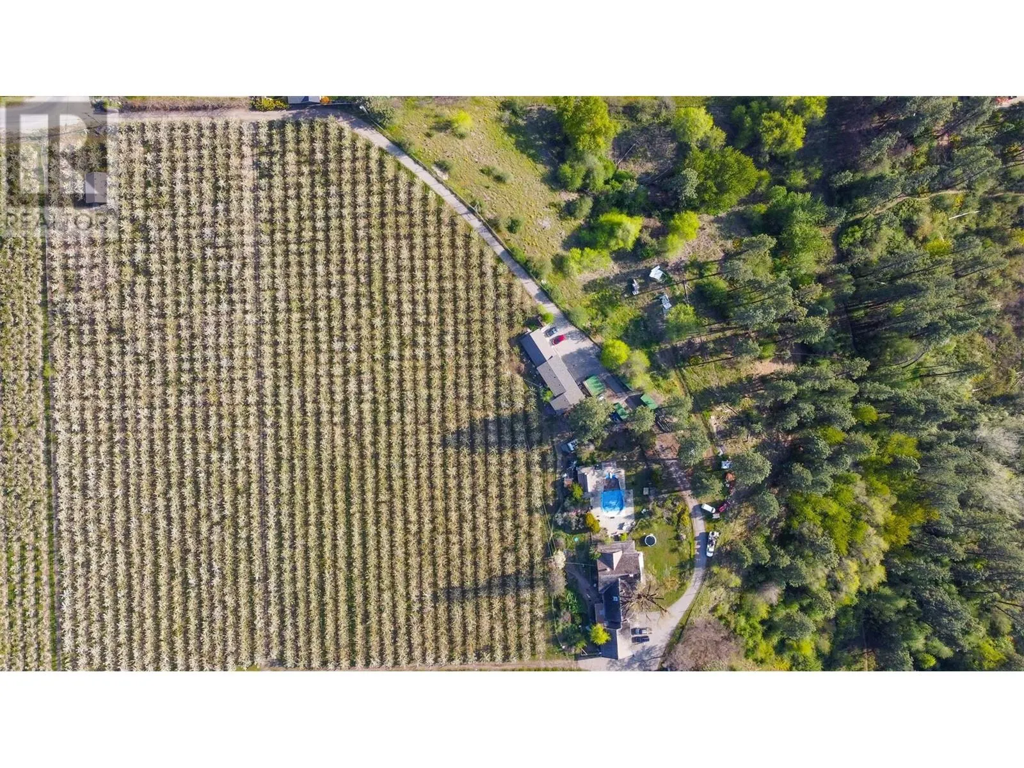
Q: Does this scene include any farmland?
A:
Yes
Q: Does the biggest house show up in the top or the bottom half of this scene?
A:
bottom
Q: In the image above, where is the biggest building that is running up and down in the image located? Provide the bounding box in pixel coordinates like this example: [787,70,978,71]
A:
[594,540,645,659]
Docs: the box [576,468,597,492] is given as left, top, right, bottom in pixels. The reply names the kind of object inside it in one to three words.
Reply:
building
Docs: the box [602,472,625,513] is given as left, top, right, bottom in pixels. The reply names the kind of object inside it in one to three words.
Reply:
swimming pool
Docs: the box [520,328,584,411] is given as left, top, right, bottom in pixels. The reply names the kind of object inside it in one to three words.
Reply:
building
